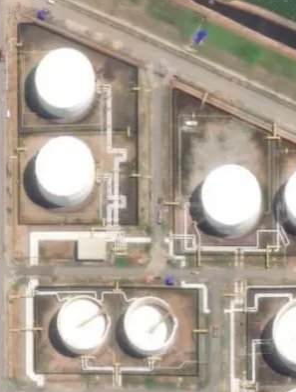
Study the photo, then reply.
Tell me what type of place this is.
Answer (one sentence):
It's an industrial area.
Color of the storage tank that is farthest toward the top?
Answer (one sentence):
The color of the storage tank that is farthest toward the top is white.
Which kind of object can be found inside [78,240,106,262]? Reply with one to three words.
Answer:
building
